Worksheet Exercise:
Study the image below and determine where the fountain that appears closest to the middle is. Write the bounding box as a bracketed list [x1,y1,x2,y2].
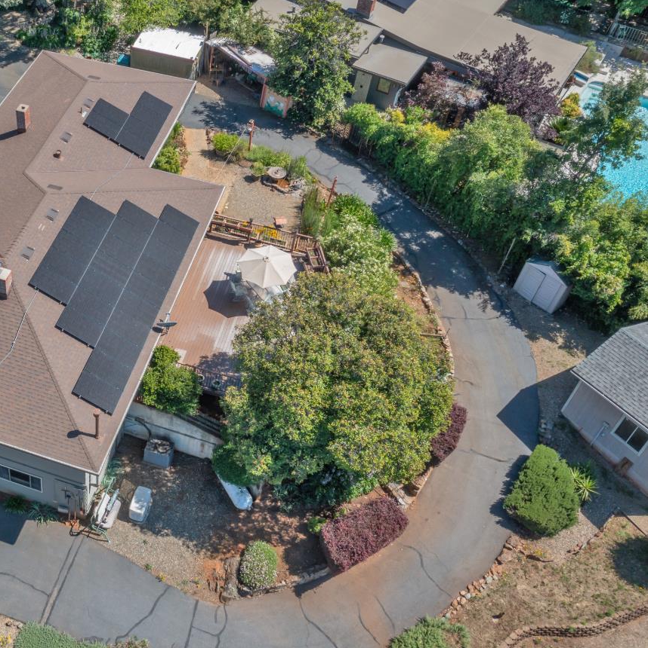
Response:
[268,165,290,186]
